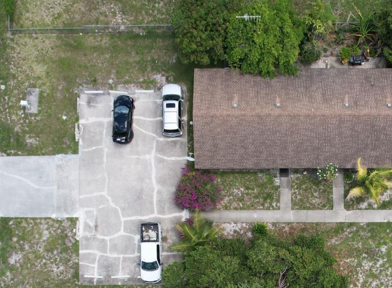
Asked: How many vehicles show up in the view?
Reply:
three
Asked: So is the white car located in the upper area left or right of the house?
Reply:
on the left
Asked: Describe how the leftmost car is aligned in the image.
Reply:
up and down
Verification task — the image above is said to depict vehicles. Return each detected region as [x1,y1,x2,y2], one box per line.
[159,83,184,136]
[136,222,162,284]
[109,95,134,141]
